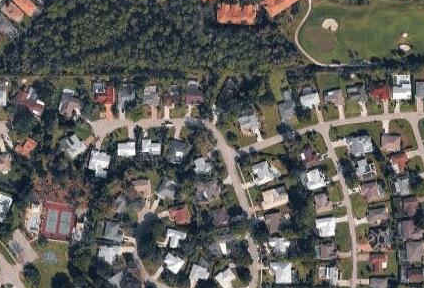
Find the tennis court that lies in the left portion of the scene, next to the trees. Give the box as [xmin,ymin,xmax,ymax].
[40,200,76,241]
